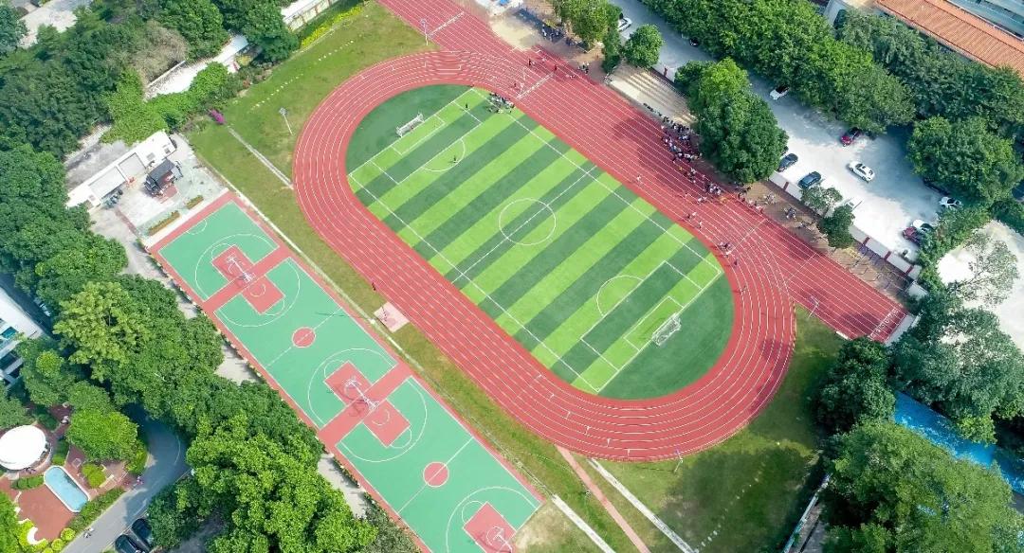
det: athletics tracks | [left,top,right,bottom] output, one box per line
[289,0,907,465]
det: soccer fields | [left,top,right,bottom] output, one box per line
[346,84,732,399]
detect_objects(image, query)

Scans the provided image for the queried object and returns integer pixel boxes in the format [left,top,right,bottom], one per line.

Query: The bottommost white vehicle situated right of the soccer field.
[894,247,923,266]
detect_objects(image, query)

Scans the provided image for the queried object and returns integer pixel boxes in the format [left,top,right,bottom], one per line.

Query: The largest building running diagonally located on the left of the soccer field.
[68,129,185,223]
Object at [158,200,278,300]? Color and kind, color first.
green basketball court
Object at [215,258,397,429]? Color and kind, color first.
green basketball court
